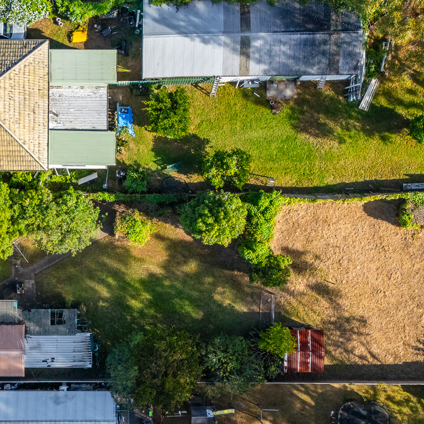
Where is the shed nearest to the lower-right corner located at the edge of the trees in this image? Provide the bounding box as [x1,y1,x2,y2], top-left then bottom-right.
[285,330,327,373]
